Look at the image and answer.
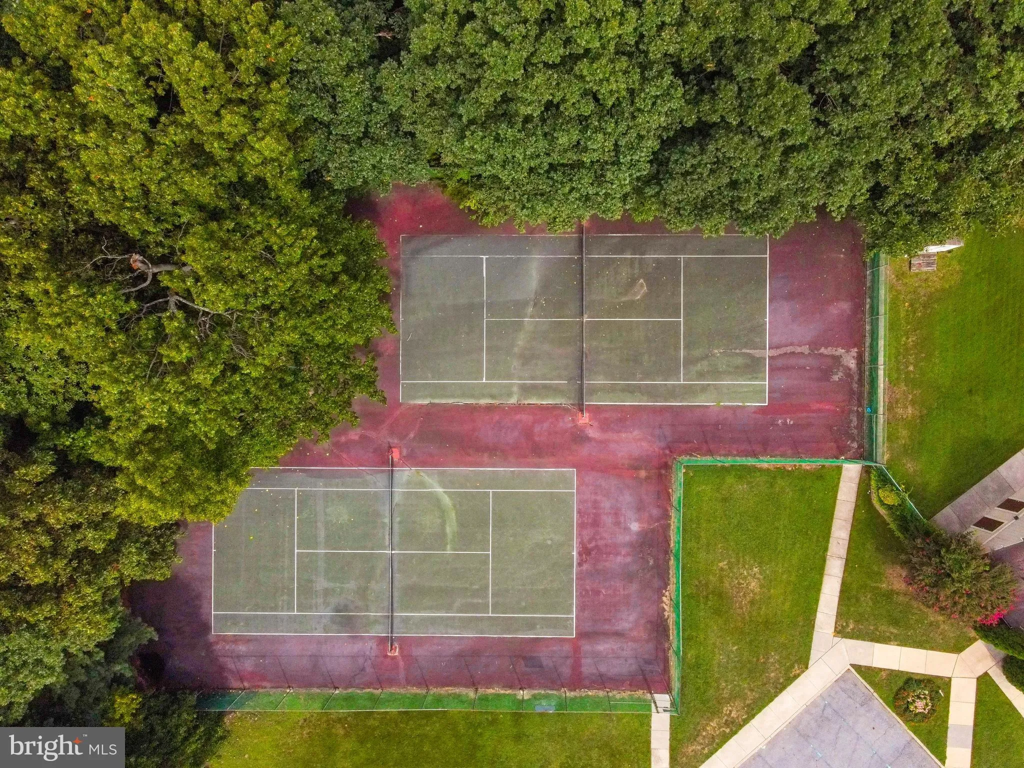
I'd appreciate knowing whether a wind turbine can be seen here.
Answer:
No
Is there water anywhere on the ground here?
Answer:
No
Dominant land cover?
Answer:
trees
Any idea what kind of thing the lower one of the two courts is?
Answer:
tennis court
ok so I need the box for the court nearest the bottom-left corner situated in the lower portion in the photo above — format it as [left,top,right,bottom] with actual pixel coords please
[212,467,576,637]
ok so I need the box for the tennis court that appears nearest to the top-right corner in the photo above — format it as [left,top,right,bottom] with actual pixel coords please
[400,234,769,405]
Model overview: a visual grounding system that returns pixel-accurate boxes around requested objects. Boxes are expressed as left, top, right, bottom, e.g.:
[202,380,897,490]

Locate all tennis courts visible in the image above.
[400,234,769,405]
[212,467,576,637]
